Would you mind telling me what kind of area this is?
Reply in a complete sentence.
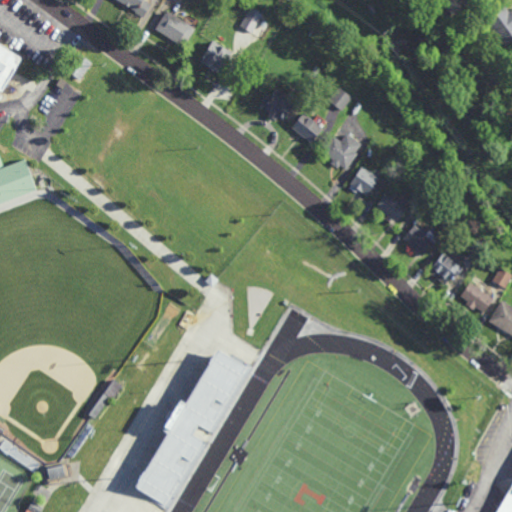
It's a sports ground.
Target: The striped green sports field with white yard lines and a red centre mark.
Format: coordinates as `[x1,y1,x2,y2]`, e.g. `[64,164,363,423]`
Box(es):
[193,352,436,512]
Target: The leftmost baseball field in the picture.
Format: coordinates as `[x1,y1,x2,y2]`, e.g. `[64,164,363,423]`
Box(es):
[0,198,160,467]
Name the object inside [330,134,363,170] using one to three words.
house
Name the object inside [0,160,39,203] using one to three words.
building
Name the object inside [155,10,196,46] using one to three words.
house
